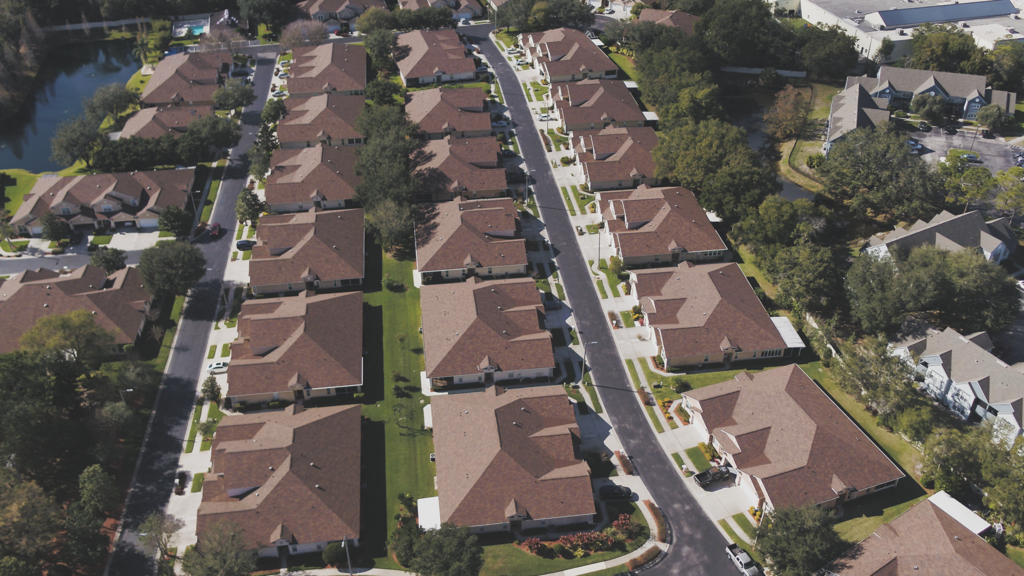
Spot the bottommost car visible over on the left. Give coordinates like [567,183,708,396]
[201,360,224,373]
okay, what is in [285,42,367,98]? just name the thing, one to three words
house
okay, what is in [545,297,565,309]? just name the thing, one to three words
vehicle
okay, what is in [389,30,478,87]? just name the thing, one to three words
house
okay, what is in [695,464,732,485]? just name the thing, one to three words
truck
